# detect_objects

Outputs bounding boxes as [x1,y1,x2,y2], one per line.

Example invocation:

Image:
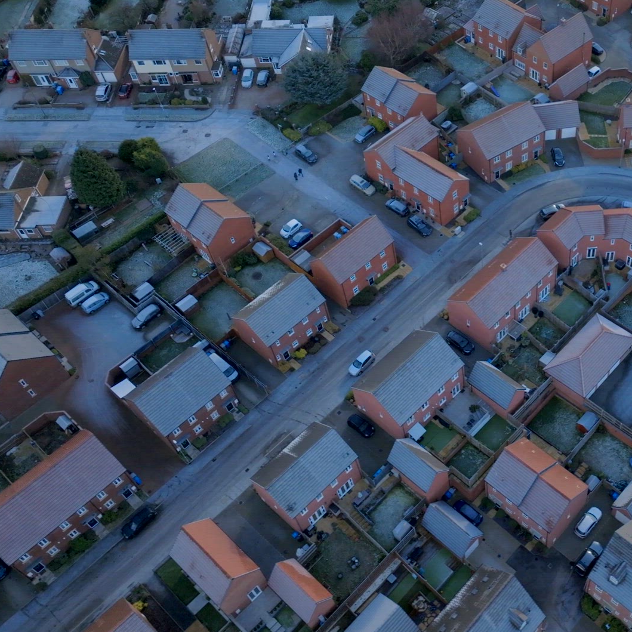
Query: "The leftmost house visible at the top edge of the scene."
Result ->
[8,22,105,87]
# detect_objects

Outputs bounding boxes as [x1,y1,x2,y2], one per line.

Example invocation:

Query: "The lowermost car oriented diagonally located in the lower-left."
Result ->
[121,502,161,539]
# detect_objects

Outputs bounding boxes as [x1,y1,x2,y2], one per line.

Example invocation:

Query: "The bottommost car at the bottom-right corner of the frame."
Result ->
[570,541,604,581]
